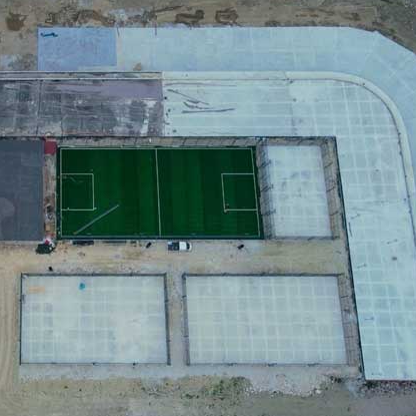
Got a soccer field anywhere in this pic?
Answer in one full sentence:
Yes, there's a soccer field here.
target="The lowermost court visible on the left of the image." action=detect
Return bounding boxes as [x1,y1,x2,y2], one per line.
[20,275,168,364]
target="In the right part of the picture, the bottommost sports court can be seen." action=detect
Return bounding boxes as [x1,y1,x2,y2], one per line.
[184,275,348,364]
